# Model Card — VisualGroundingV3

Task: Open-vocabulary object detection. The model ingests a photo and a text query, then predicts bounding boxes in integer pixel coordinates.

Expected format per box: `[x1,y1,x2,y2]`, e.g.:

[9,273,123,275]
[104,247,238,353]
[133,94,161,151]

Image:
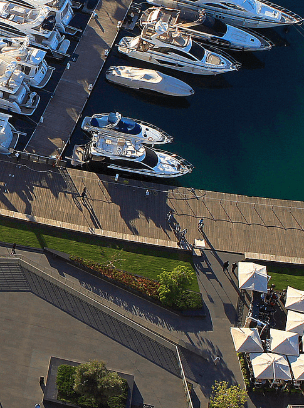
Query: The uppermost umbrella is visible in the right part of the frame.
[236,261,270,288]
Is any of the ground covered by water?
Yes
